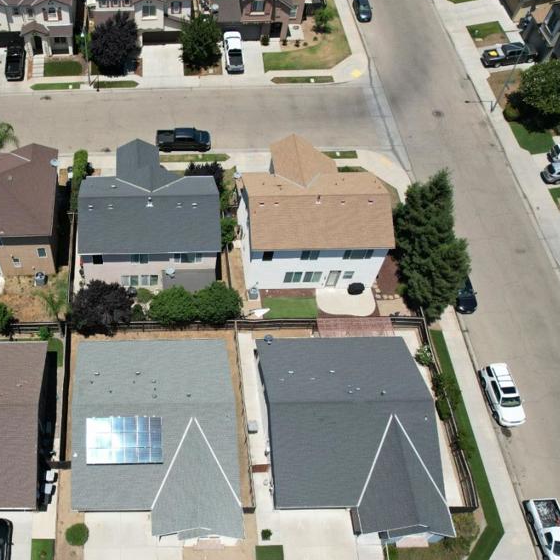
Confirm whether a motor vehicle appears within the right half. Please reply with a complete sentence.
Yes, a motor vehicle appears within the right half.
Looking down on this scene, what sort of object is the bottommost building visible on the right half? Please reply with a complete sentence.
What you see as the bottommost building visible on the right half is a residential house.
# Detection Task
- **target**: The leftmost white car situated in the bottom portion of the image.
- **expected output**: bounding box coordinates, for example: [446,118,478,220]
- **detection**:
[478,365,525,429]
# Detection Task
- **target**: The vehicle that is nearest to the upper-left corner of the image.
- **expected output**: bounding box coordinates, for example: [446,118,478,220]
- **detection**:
[3,48,26,80]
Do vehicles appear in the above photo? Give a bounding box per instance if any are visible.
[539,161,560,185]
[475,43,532,67]
[544,141,560,162]
[3,48,26,80]
[450,266,481,312]
[156,129,210,153]
[350,0,373,23]
[524,498,560,560]
[0,519,13,560]
[478,365,525,429]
